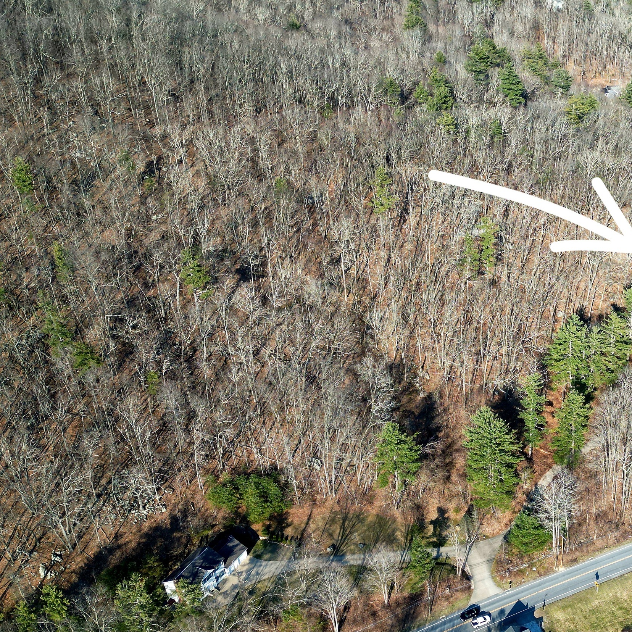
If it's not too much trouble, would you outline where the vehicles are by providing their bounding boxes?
[468,611,492,627]
[455,605,476,619]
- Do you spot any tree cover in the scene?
Yes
